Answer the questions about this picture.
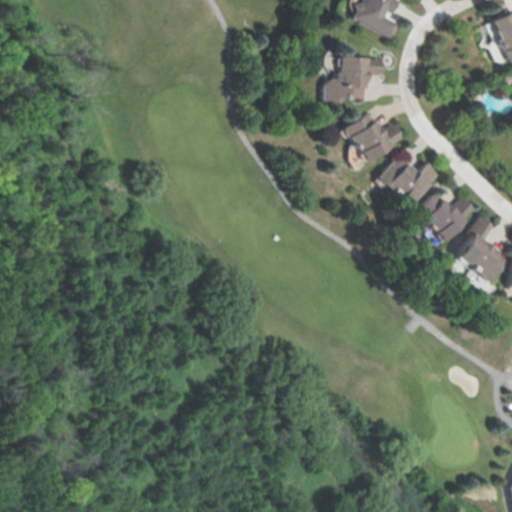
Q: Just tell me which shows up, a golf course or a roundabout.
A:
golf course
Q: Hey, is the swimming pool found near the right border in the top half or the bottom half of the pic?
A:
top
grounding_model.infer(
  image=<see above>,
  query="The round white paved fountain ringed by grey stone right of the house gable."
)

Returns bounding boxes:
[379,51,397,70]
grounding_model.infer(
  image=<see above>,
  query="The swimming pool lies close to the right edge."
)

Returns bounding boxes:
[476,92,512,118]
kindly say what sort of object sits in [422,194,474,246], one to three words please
house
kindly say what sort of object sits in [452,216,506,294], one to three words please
house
